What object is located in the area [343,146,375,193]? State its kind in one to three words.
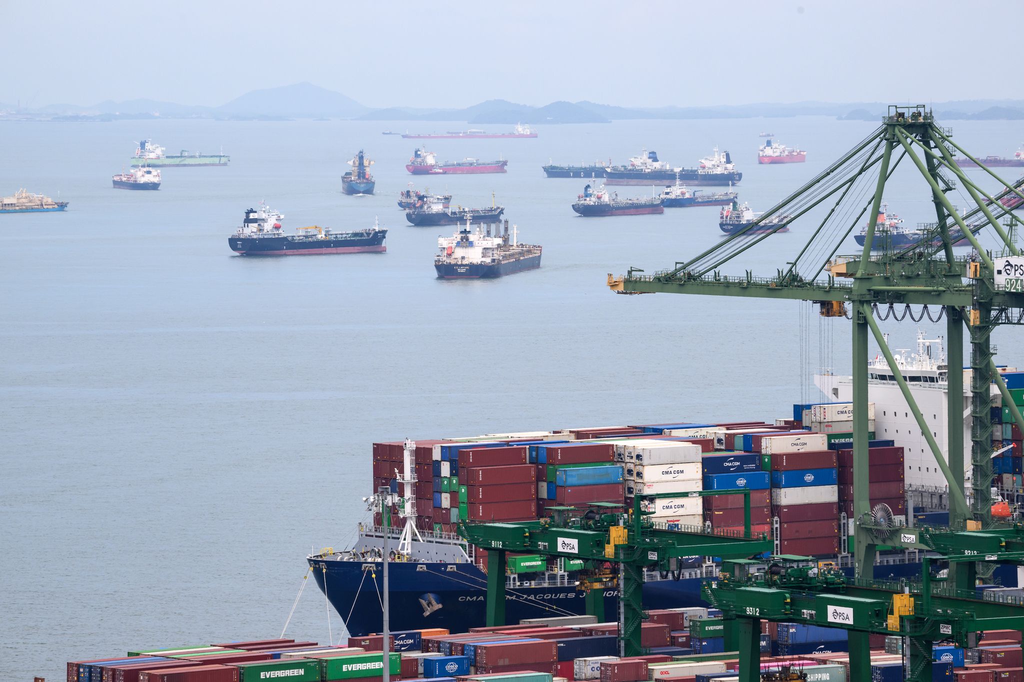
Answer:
ship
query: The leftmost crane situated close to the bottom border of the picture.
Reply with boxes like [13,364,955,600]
[449,487,784,649]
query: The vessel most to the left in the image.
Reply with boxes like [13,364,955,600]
[0,187,67,213]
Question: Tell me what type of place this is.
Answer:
port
